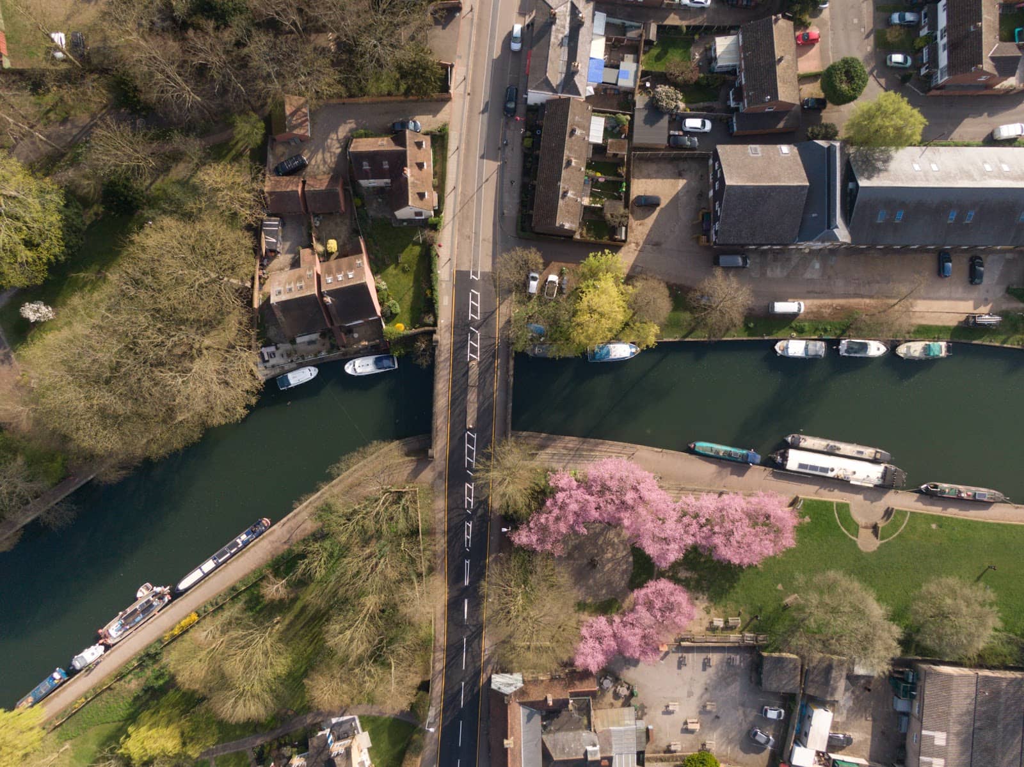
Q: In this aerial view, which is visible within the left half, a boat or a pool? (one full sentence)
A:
You can see a boat within the left half.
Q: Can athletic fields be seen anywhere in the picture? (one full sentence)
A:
No, there's no athletic field here.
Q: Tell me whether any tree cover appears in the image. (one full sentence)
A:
Yes, there's tree cover in this view.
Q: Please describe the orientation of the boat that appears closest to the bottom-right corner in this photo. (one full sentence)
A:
Seen from above, the boat that appears closest to the bottom-right corner lies horizontally.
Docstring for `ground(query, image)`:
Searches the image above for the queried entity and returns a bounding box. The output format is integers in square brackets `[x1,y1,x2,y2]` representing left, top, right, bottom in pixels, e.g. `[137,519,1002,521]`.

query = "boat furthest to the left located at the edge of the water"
[19,666,72,701]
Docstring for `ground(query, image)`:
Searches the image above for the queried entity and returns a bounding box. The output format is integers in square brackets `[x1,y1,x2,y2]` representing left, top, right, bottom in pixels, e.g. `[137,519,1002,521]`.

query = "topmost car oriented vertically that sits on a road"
[509,22,523,52]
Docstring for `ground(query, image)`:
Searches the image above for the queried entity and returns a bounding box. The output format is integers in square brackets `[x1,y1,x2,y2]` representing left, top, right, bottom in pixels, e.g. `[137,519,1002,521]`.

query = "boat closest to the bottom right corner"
[919,482,1006,503]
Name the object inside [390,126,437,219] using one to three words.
house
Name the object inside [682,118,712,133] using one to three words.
car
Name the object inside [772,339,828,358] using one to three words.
boat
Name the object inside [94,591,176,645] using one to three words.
vessel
